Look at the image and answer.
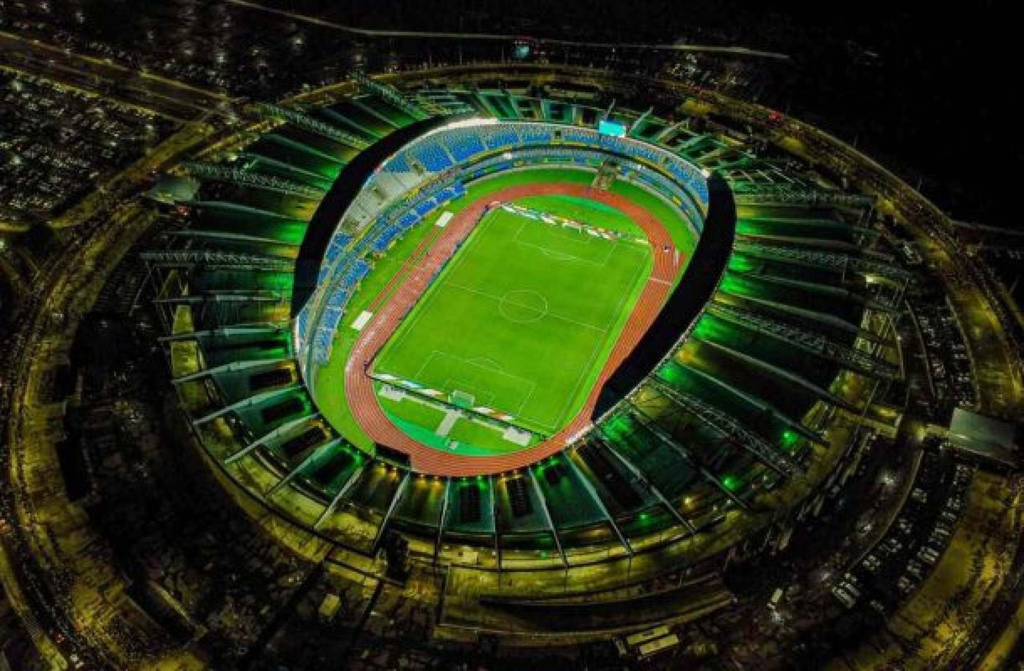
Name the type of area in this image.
sports ground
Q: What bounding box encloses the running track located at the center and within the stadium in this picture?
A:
[346,180,693,475]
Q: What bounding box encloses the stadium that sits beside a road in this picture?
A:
[139,74,915,667]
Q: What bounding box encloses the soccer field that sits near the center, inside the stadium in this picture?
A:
[370,205,657,435]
